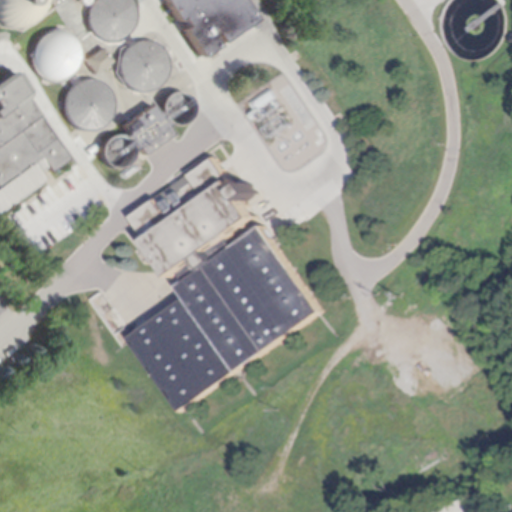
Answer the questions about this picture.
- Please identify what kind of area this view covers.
industrial area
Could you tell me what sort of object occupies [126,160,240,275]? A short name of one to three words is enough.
building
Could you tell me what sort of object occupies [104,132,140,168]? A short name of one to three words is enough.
storage tank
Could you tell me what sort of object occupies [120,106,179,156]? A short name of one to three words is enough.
building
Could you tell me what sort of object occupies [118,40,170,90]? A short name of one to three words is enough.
storage tank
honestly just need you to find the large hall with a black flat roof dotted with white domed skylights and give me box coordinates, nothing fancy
[122,230,314,408]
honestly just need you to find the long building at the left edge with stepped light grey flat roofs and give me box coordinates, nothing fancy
[0,74,75,214]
